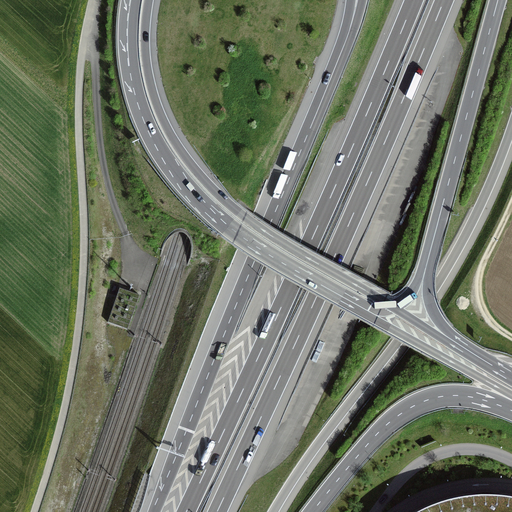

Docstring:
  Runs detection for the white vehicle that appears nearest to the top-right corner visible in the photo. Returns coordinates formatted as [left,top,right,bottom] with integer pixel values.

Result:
[406,67,424,98]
